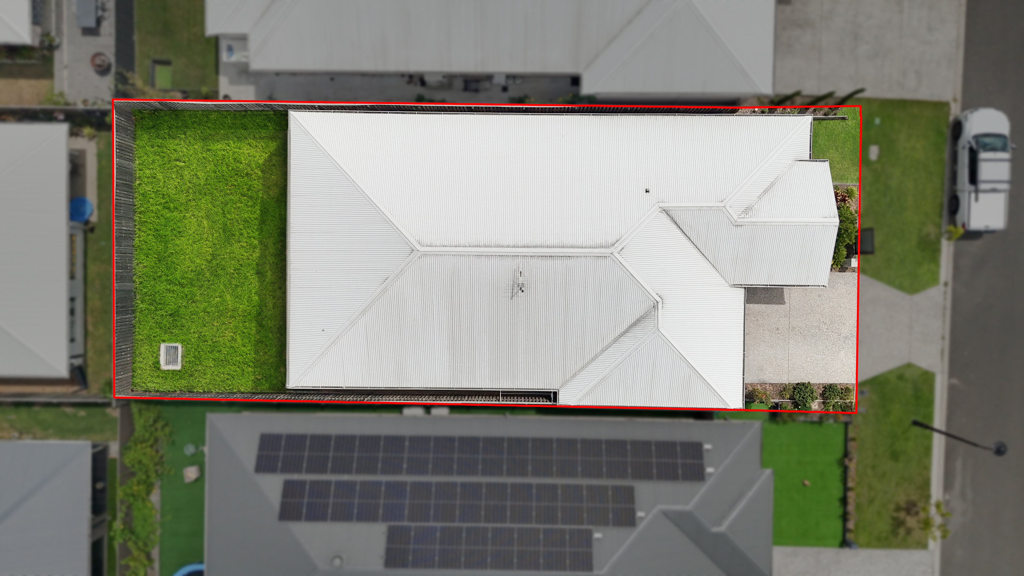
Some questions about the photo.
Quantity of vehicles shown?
1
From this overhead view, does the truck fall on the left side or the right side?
right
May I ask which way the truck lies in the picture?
up and down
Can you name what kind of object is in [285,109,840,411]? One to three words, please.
house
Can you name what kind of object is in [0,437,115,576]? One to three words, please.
house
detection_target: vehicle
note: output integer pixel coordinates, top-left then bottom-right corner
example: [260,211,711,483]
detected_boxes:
[947,108,1013,235]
